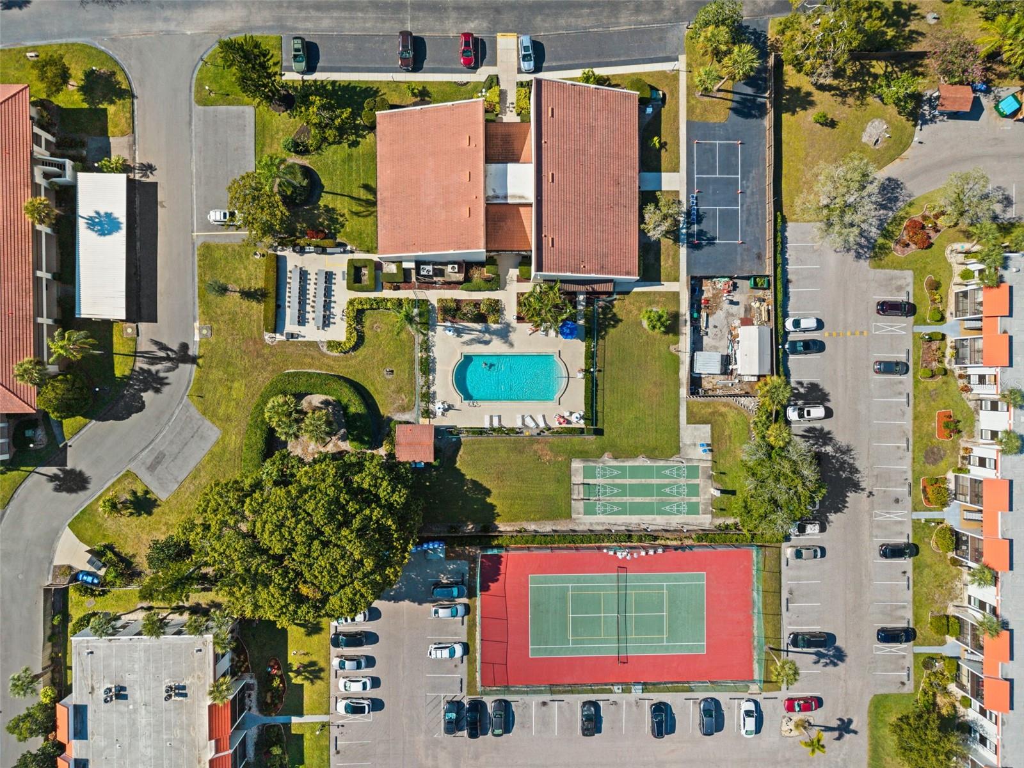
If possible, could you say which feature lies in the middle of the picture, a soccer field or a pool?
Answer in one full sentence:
You can see a pool in the middle of the picture.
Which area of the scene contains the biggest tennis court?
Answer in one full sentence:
The biggest tennis court is located in the bottom region of the scene.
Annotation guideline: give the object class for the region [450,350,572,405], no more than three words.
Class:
swimming pool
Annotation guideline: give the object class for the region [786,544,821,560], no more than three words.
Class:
car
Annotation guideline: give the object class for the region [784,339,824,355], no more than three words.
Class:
vehicle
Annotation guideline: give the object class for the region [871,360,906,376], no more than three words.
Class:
car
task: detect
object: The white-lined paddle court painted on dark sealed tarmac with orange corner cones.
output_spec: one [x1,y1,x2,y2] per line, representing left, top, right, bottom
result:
[695,141,740,242]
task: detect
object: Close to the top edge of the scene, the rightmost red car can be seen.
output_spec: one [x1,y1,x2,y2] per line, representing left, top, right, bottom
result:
[459,32,475,71]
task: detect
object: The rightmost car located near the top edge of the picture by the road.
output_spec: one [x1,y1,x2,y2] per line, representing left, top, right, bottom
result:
[518,35,535,74]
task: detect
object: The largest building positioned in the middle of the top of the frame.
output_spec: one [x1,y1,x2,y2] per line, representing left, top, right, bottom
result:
[376,76,639,294]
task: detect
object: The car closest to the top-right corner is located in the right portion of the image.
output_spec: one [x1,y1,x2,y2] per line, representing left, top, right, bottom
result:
[874,300,913,317]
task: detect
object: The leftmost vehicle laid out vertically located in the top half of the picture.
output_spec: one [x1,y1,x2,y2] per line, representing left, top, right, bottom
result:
[289,36,308,75]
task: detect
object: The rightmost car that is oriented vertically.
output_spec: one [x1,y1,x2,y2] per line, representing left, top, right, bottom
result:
[740,697,758,737]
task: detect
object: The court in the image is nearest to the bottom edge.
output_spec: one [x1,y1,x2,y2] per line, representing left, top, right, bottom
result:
[479,546,756,687]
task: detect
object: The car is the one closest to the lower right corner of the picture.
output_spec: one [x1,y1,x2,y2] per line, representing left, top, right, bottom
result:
[876,626,914,644]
